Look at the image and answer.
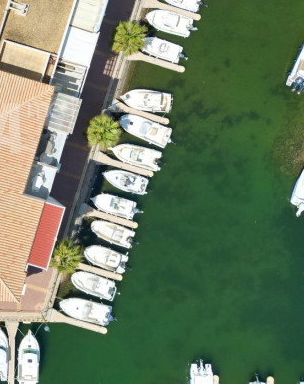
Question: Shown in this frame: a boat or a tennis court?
boat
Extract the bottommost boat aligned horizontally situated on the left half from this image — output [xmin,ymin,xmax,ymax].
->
[60,297,116,326]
